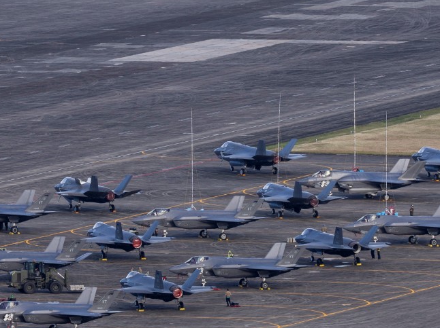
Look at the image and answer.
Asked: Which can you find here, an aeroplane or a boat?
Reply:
aeroplane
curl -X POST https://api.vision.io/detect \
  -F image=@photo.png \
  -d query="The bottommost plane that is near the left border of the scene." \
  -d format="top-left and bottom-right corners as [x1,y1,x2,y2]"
[0,283,130,328]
